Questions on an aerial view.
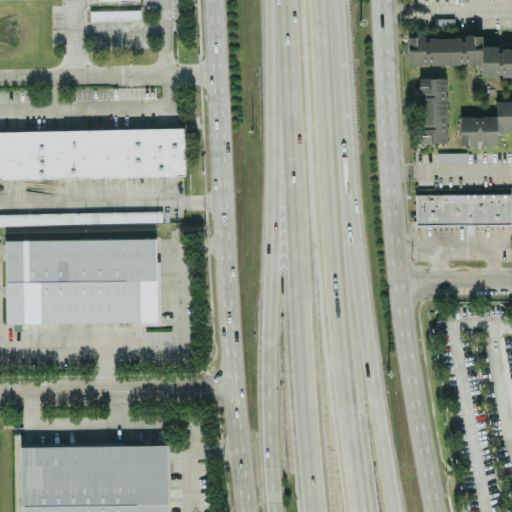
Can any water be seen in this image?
No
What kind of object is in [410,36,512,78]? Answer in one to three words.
building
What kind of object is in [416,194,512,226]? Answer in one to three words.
building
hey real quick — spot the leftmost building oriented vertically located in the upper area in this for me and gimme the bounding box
[420,78,448,145]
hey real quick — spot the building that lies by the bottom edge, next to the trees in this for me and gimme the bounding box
[21,446,170,512]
